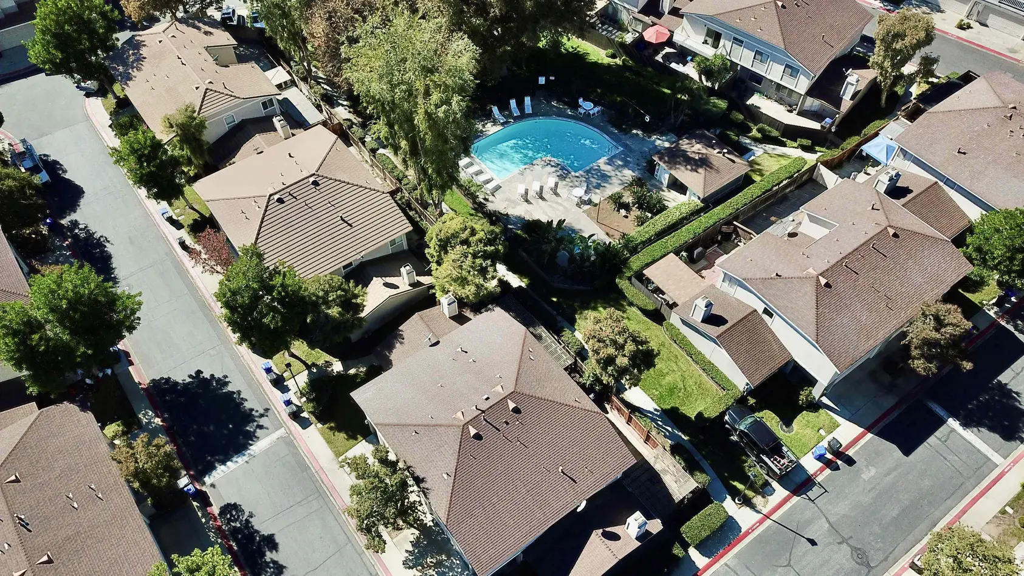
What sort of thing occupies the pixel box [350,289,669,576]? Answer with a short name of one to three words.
house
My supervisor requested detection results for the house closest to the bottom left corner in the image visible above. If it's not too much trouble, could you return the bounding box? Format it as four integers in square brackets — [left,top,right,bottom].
[0,390,171,576]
